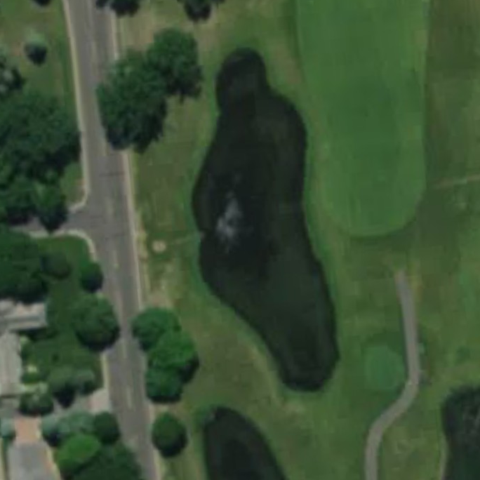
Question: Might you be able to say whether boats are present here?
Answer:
No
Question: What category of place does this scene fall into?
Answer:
golf course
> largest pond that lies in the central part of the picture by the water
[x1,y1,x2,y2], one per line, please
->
[193,48,339,390]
